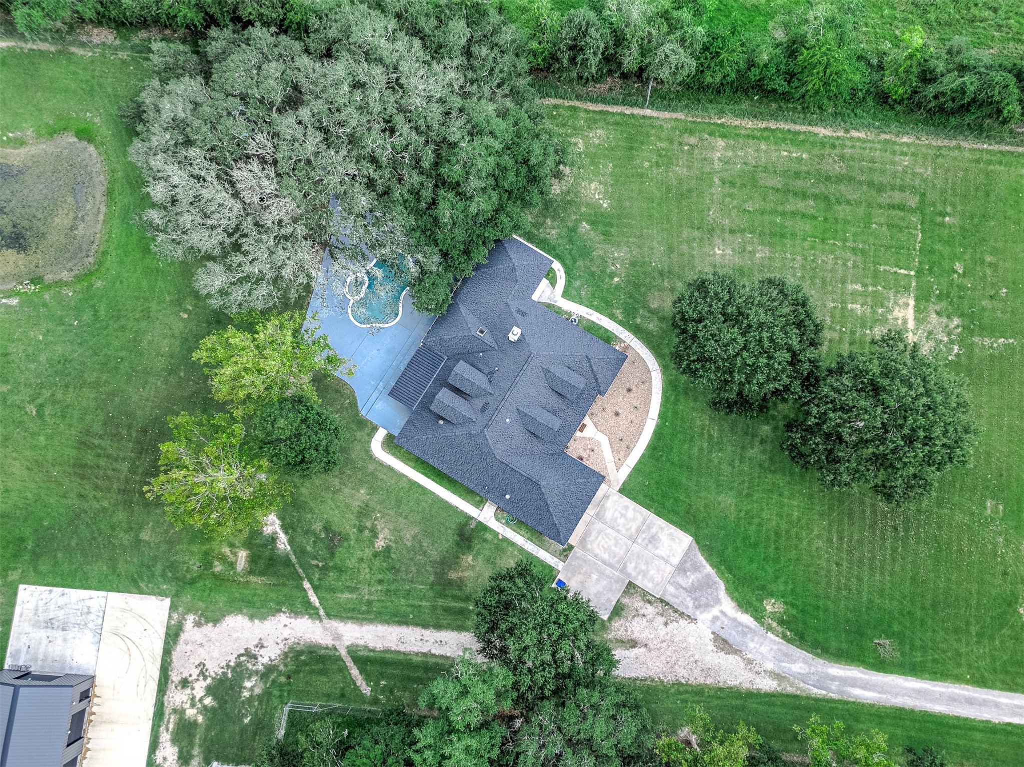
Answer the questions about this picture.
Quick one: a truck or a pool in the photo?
pool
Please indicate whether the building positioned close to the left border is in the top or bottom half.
bottom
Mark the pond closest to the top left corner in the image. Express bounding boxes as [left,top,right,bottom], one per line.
[0,130,110,296]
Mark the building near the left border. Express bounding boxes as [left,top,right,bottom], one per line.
[0,663,95,767]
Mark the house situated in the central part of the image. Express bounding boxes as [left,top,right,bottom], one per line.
[387,237,630,548]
